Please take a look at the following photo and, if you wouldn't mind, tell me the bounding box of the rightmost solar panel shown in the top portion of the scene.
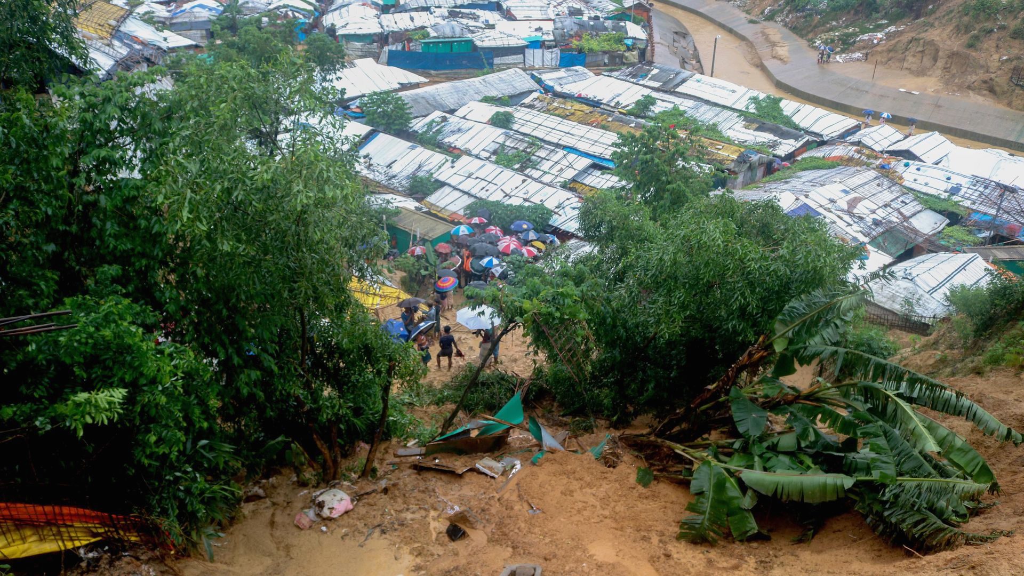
[943,181,965,197]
